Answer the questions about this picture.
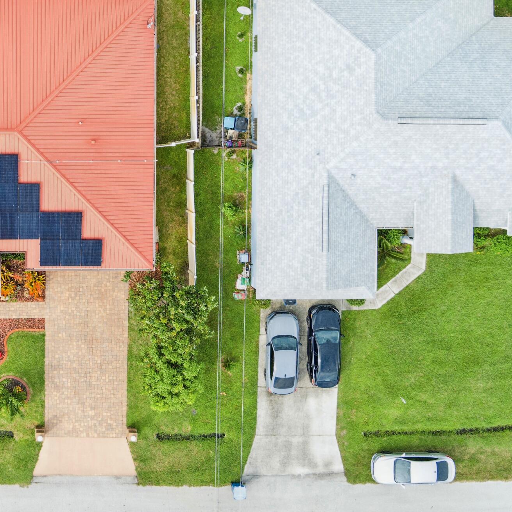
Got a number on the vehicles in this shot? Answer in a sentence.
There are 3 vehicles in the image.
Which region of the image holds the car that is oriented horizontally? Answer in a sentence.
Look in the bottom right portion of the view to spot the car that is oriented horizontally.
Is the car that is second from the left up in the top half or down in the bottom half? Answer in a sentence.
The bottom half of the photo is where the car that is second from the left is.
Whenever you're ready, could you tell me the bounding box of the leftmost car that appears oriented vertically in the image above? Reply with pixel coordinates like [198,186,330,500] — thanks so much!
[263,309,305,394]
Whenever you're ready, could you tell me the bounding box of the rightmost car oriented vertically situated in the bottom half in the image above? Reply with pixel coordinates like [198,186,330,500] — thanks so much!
[306,302,347,388]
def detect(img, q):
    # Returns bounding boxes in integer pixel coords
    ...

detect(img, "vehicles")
[306,302,347,388]
[263,309,305,394]
[371,448,458,490]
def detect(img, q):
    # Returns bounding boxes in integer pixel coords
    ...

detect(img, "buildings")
[0,0,162,296]
[245,0,512,299]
